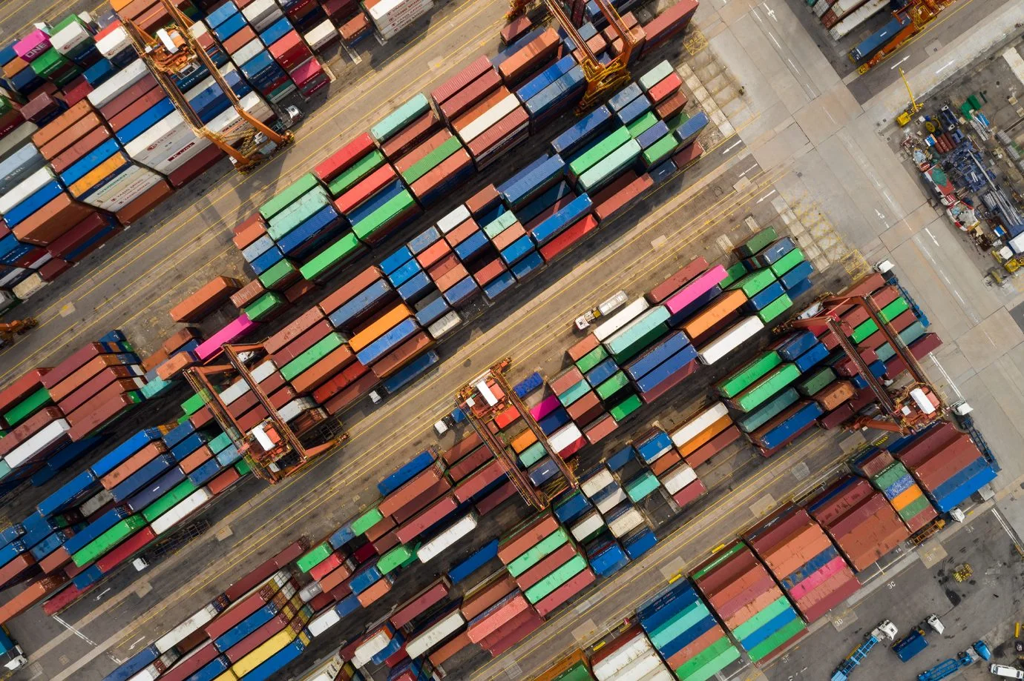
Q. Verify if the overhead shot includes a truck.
Yes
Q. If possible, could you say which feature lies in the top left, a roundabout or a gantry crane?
gantry crane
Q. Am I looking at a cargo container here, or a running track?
cargo container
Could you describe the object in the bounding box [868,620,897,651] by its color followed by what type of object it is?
white truck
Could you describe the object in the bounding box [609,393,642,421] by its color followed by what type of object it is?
green shipping container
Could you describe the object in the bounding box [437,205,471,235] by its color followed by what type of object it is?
white shipping container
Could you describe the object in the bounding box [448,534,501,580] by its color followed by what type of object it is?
blue shipping container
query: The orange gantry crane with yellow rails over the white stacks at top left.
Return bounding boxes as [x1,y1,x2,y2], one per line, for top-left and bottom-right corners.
[114,0,295,170]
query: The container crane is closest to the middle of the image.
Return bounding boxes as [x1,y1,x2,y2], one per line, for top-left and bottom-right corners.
[454,354,588,519]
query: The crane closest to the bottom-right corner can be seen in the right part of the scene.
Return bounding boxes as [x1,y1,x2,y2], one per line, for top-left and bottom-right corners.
[772,287,954,442]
